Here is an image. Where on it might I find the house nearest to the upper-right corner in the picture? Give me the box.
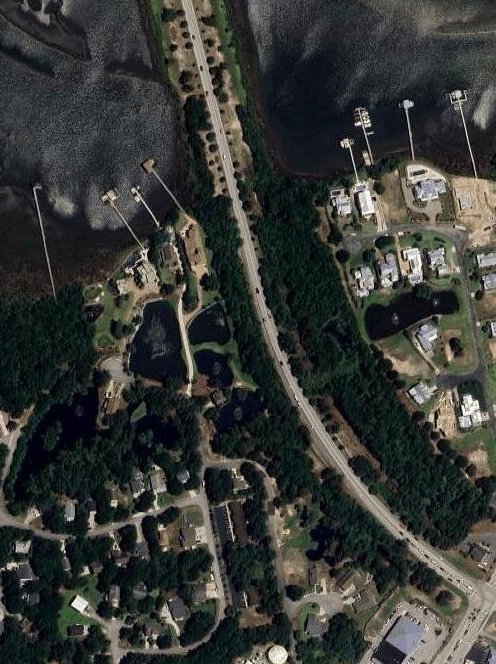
[413,180,446,201]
